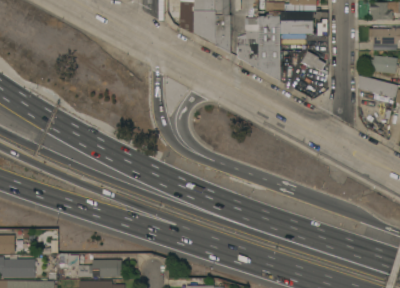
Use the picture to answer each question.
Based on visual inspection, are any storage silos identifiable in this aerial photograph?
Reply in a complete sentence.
No, the picture doesn't show any storage silo.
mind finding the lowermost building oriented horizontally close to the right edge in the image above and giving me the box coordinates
[358,75,400,100]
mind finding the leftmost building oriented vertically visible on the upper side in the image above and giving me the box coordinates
[181,2,194,32]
